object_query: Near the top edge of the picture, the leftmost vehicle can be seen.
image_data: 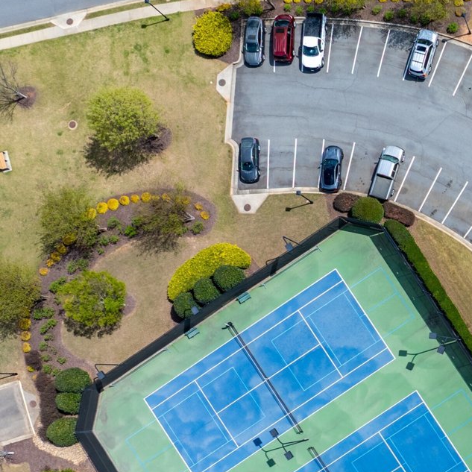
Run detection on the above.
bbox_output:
[241,15,266,66]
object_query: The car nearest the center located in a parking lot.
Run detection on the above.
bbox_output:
[237,136,261,184]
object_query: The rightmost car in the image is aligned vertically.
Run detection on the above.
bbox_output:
[409,29,437,80]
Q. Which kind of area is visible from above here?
sports ground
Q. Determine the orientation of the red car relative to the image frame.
up and down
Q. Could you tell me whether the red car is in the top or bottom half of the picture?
top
